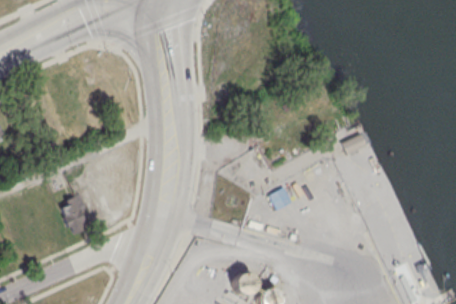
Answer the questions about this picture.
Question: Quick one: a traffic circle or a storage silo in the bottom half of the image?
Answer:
storage silo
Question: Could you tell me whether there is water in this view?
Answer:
Yes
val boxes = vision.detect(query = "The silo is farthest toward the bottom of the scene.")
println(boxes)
[259,288,285,304]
